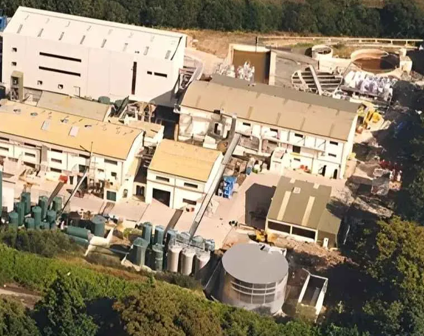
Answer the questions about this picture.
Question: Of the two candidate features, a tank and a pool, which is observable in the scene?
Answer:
tank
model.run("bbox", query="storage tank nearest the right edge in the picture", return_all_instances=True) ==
[353,41,412,76]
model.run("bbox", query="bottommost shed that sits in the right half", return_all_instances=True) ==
[266,183,342,242]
